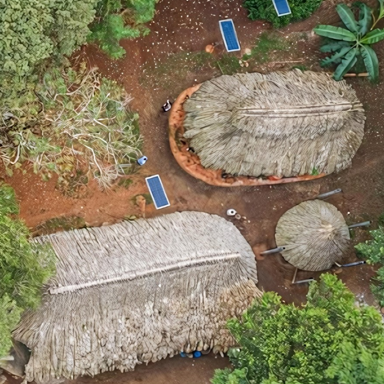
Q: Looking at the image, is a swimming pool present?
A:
No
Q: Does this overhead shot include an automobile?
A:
No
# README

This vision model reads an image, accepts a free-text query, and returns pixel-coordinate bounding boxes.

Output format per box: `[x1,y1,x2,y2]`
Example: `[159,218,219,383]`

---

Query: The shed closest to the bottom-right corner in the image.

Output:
[272,195,355,274]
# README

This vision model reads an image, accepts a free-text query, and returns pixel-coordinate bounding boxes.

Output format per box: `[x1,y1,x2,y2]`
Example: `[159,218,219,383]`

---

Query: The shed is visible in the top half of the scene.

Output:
[167,66,371,189]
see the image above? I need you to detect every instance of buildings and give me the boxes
[167,66,371,189]
[272,195,355,274]
[2,205,267,384]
